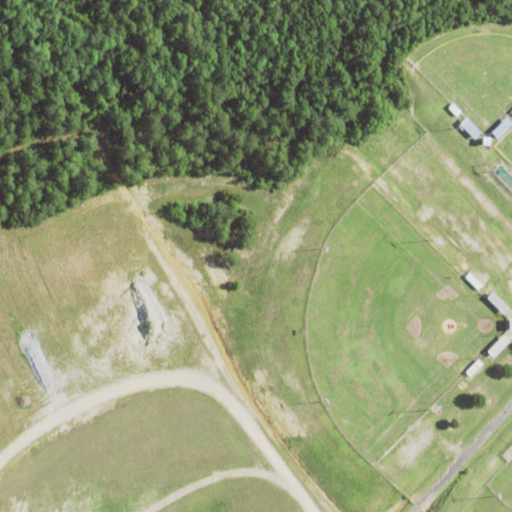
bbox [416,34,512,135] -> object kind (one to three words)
baseball field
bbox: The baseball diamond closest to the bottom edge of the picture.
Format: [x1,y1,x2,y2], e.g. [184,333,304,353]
[306,184,503,466]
